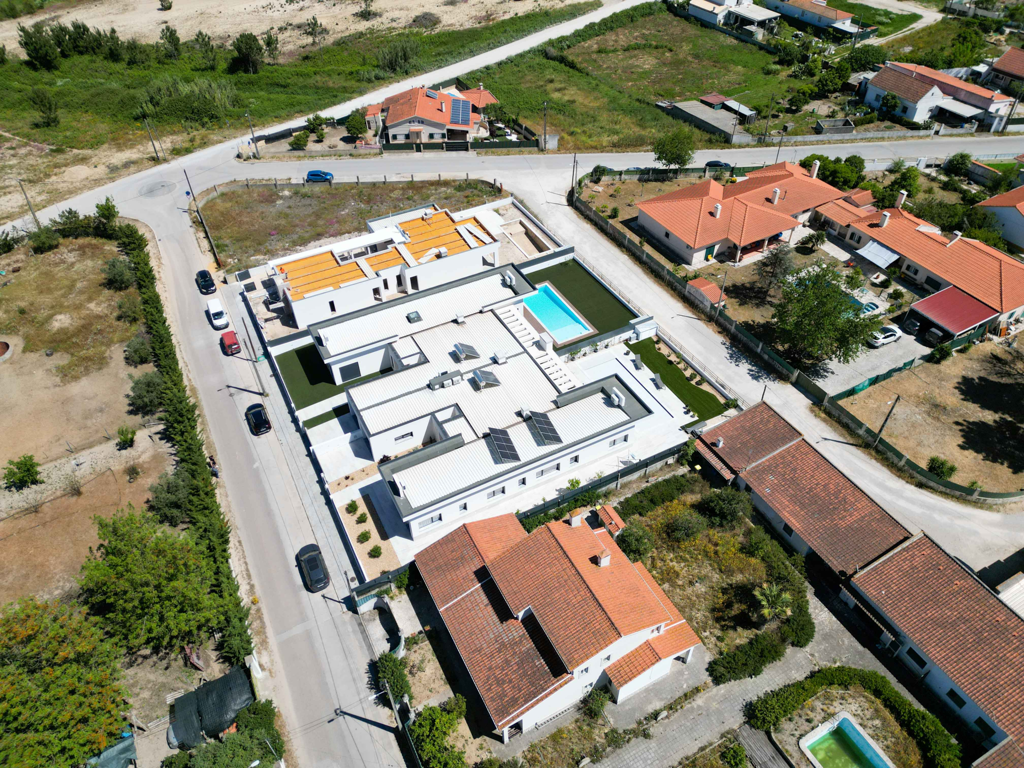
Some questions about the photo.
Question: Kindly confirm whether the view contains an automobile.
Yes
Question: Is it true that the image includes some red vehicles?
Yes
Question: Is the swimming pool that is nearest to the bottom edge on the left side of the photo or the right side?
right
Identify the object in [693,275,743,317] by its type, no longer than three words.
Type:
shed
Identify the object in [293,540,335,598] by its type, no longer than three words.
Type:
car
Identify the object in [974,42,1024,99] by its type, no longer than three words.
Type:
house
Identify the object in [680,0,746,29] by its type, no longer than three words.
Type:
house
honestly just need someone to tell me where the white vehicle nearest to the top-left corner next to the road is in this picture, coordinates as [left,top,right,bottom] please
[201,293,230,331]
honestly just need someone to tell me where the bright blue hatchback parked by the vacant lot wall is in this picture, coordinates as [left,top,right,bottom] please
[305,168,336,184]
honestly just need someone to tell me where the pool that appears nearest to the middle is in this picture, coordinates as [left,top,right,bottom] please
[524,284,600,348]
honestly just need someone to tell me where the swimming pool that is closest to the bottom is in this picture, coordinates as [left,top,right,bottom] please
[798,711,897,768]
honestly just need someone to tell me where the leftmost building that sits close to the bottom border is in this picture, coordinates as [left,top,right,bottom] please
[411,509,705,746]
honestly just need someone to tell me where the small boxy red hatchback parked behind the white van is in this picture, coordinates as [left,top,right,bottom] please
[218,331,242,358]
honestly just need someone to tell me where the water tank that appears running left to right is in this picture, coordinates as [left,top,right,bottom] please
[816,116,855,131]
